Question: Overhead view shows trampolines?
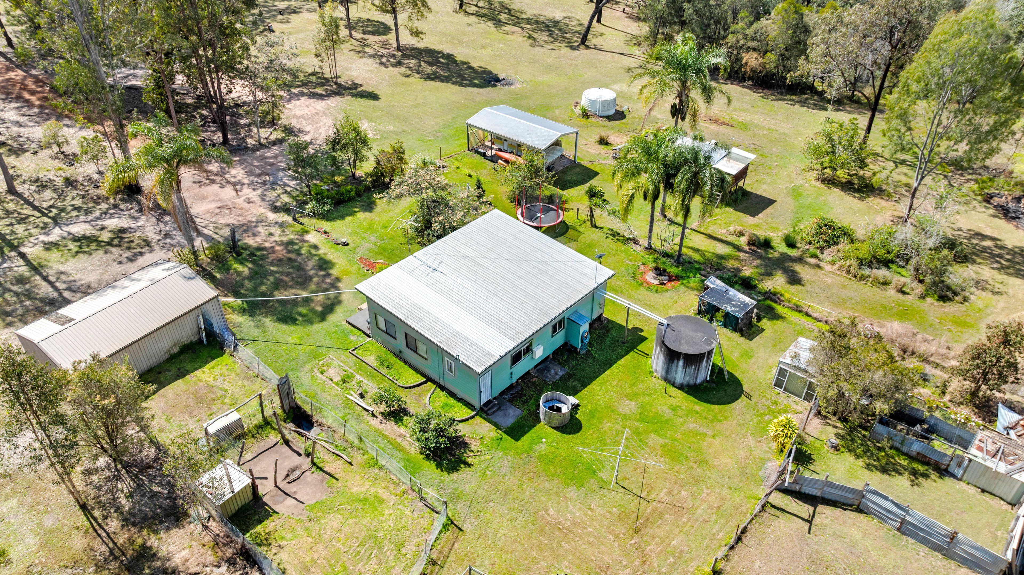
Yes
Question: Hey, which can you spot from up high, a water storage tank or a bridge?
water storage tank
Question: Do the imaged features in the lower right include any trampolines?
No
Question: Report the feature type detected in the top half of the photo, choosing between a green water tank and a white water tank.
white water tank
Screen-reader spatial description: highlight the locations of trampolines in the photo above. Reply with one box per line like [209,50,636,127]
[516,182,565,234]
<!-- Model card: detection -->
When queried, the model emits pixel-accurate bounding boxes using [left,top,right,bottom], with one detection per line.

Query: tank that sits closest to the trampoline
[580,88,617,122]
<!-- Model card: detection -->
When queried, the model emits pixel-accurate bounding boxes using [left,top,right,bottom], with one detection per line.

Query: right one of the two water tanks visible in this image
[649,318,720,393]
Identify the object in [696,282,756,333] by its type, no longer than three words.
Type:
house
